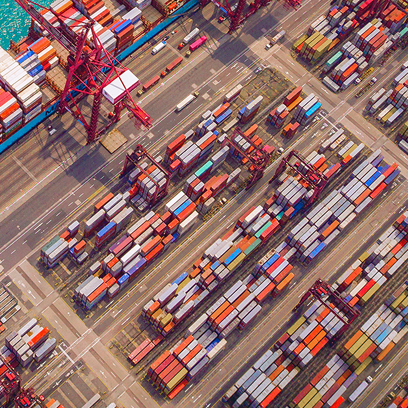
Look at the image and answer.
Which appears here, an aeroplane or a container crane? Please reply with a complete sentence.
It is a container crane that can be seen here.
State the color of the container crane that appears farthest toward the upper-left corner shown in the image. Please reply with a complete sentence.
From above, the container crane that appears farthest toward the upper-left corner appears red.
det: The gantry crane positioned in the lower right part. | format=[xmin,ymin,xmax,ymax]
[296,275,364,343]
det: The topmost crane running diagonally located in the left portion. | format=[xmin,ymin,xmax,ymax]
[10,0,154,146]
